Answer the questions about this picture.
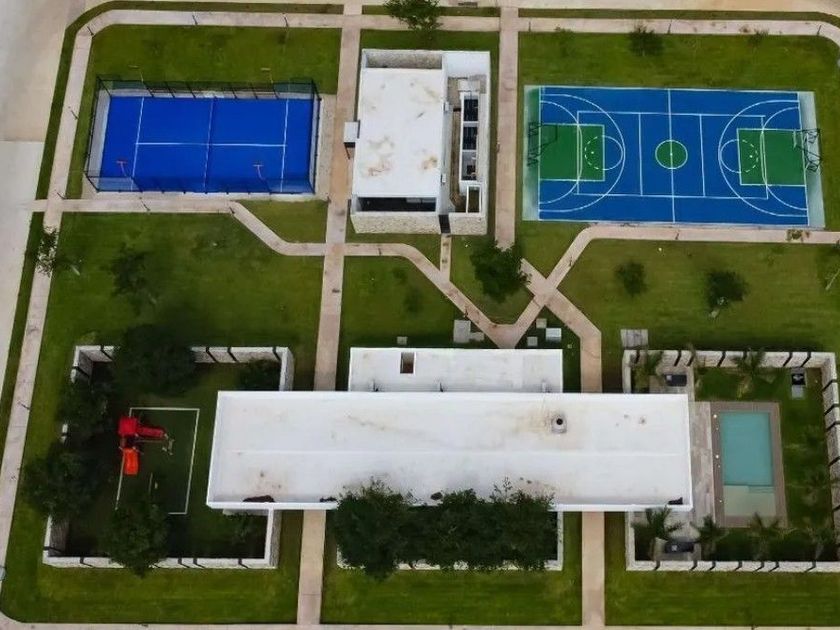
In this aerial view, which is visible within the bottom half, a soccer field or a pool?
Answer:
pool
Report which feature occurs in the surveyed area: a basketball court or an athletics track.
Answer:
basketball court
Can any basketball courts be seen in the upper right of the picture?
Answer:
Yes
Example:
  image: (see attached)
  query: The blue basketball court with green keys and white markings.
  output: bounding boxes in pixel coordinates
[523,86,825,227]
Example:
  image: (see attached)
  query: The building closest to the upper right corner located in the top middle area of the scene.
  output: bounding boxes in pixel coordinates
[350,49,491,234]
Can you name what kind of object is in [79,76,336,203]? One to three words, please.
sports court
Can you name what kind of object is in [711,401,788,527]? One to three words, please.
swimming pool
